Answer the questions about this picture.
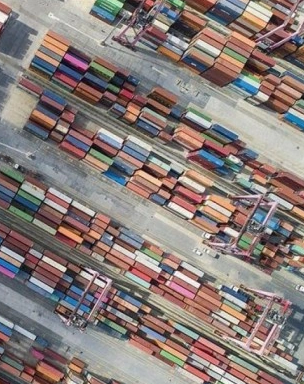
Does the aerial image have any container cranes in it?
Yes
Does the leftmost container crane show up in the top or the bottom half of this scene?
bottom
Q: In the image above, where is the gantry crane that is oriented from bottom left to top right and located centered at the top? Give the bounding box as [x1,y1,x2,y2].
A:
[108,0,169,52]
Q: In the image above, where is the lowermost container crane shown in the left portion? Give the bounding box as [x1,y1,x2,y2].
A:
[52,264,118,339]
